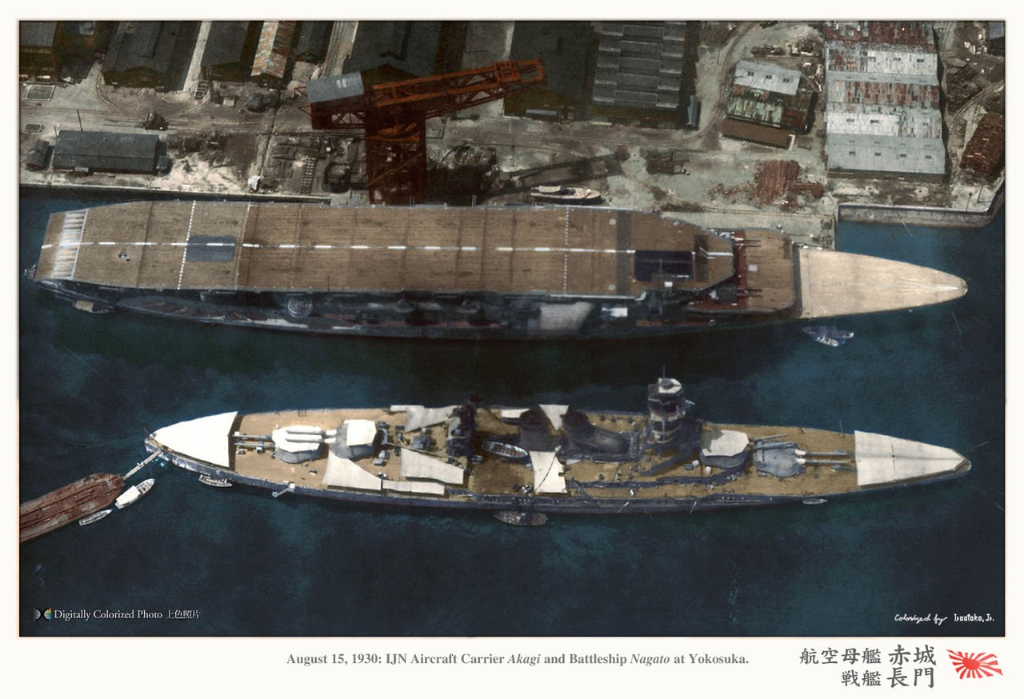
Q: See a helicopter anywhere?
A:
No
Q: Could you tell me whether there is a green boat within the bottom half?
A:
No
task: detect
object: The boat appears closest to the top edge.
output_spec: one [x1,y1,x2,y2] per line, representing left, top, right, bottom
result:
[531,186,602,202]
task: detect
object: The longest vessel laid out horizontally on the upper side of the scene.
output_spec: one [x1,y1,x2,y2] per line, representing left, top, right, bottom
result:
[33,185,973,342]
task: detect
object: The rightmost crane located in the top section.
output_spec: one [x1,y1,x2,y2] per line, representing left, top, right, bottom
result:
[296,59,554,204]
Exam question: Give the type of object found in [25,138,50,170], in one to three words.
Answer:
shed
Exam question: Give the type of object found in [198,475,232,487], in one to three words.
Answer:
boat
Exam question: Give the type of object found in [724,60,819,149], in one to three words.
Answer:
building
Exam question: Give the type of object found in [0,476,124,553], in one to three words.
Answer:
ship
